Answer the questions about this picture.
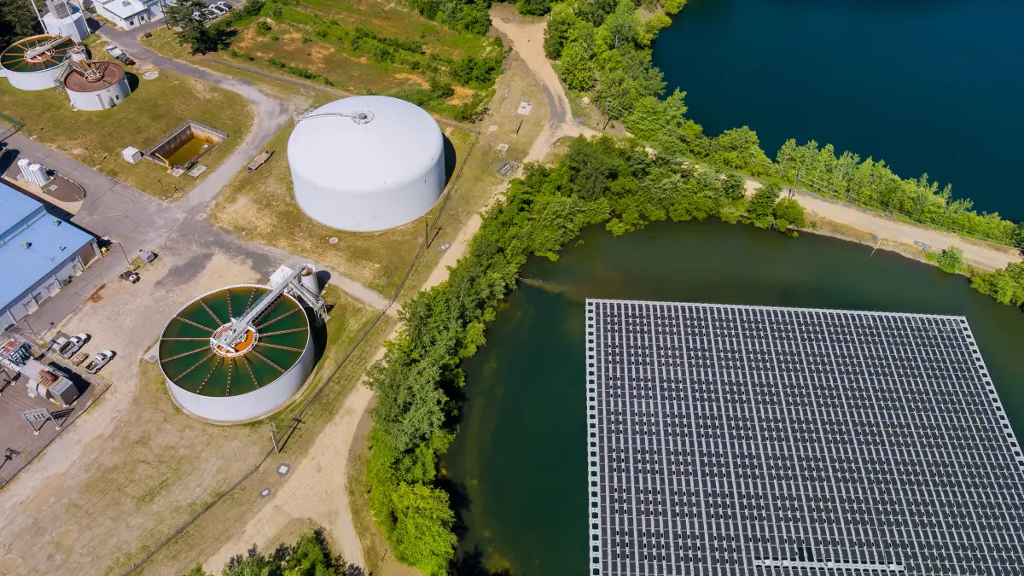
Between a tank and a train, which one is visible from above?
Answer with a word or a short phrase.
tank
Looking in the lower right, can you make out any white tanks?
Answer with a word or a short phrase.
No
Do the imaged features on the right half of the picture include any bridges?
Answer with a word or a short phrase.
No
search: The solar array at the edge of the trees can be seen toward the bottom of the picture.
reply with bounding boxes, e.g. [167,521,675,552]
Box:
[586,298,1024,576]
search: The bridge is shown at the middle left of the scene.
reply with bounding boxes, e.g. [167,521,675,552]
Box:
[213,263,309,352]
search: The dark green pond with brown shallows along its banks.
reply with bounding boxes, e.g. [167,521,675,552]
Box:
[440,222,1024,576]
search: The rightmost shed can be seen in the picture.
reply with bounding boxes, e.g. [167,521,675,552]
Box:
[266,268,297,299]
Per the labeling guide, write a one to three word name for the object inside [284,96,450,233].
storage tank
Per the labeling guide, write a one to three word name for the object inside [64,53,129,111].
storage tank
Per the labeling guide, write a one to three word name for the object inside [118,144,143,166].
shed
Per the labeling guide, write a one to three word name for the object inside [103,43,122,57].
vehicle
